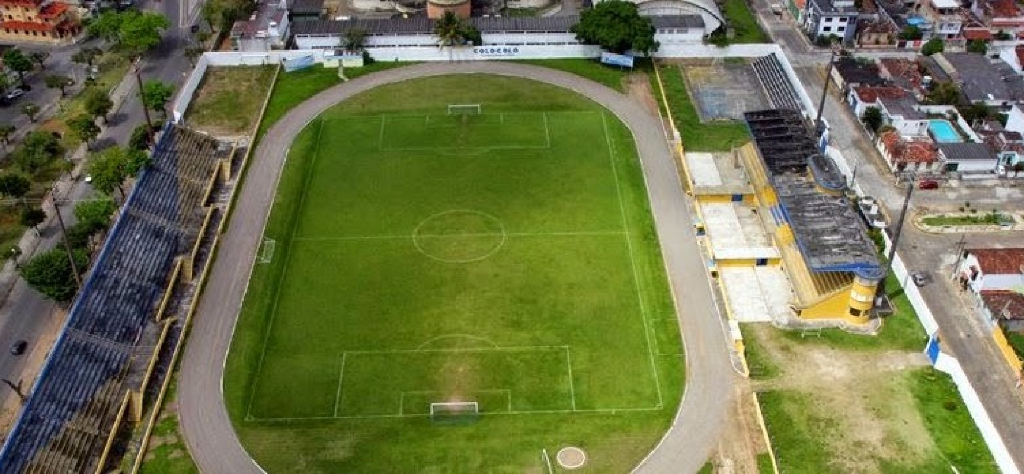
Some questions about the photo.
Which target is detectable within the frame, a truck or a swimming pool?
swimming pool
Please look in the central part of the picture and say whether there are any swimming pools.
No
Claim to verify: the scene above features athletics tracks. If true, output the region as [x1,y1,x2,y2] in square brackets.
[182,62,736,474]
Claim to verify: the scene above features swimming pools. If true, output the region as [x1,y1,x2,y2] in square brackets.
[931,117,970,143]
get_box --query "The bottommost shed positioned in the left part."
[323,49,362,67]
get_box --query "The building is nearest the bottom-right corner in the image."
[985,289,1024,329]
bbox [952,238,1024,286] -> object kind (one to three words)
house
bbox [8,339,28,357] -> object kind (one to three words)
car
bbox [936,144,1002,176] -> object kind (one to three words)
house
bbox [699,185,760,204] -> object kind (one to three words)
building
